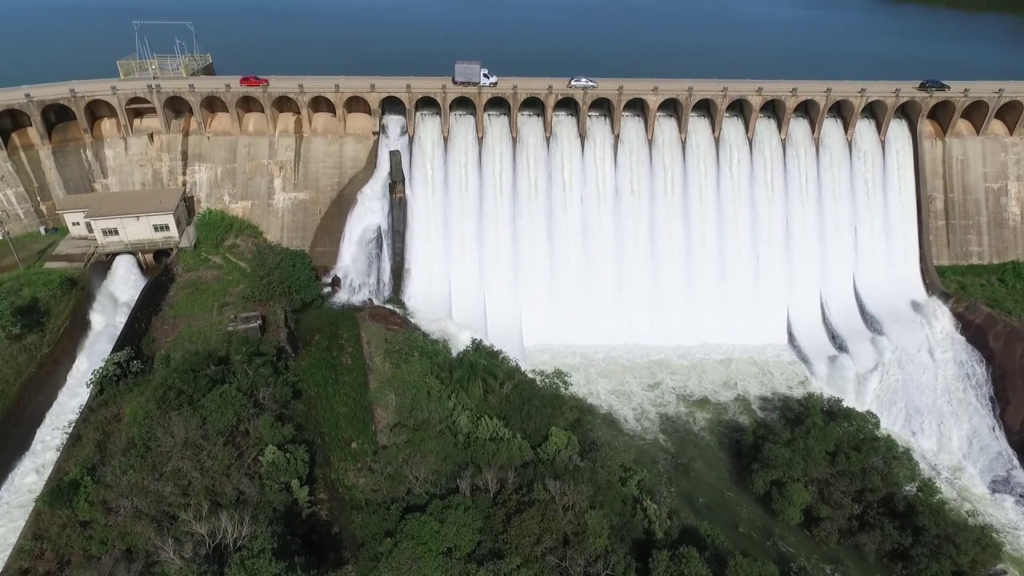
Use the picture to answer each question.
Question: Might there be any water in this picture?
Yes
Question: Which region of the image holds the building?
left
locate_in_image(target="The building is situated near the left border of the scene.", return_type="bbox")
[47,187,199,281]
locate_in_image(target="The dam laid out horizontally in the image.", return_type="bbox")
[0,73,1024,334]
